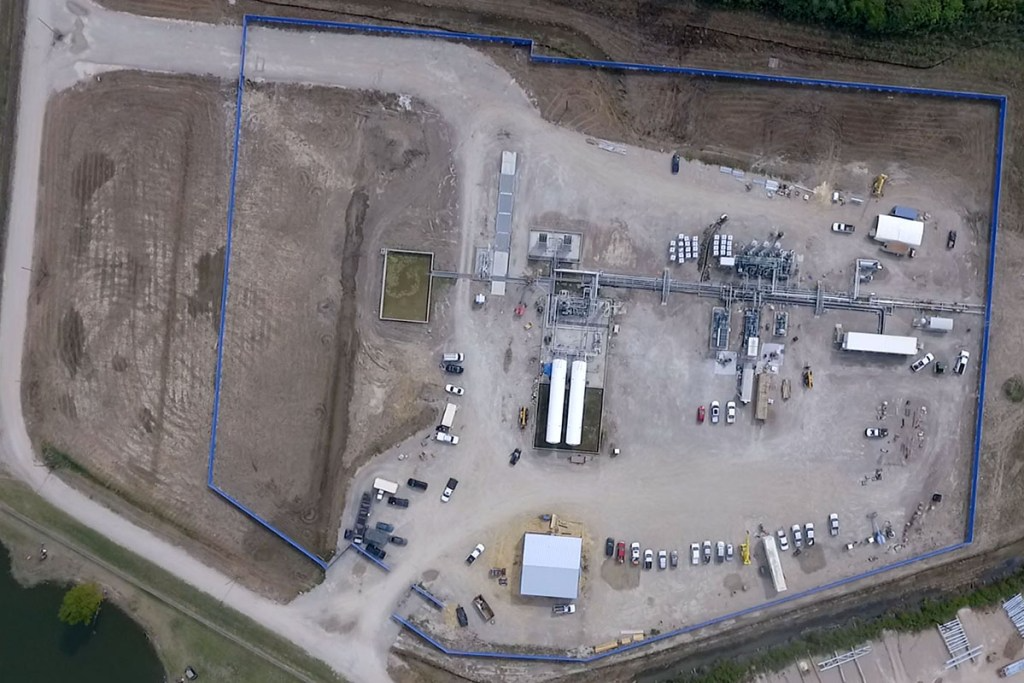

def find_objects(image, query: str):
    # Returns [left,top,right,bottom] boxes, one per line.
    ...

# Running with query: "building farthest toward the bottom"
[519,530,583,599]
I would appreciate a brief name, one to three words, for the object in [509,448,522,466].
vehicle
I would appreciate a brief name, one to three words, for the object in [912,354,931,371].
vehicle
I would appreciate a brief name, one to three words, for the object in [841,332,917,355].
trailer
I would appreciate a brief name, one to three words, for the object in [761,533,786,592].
trailer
